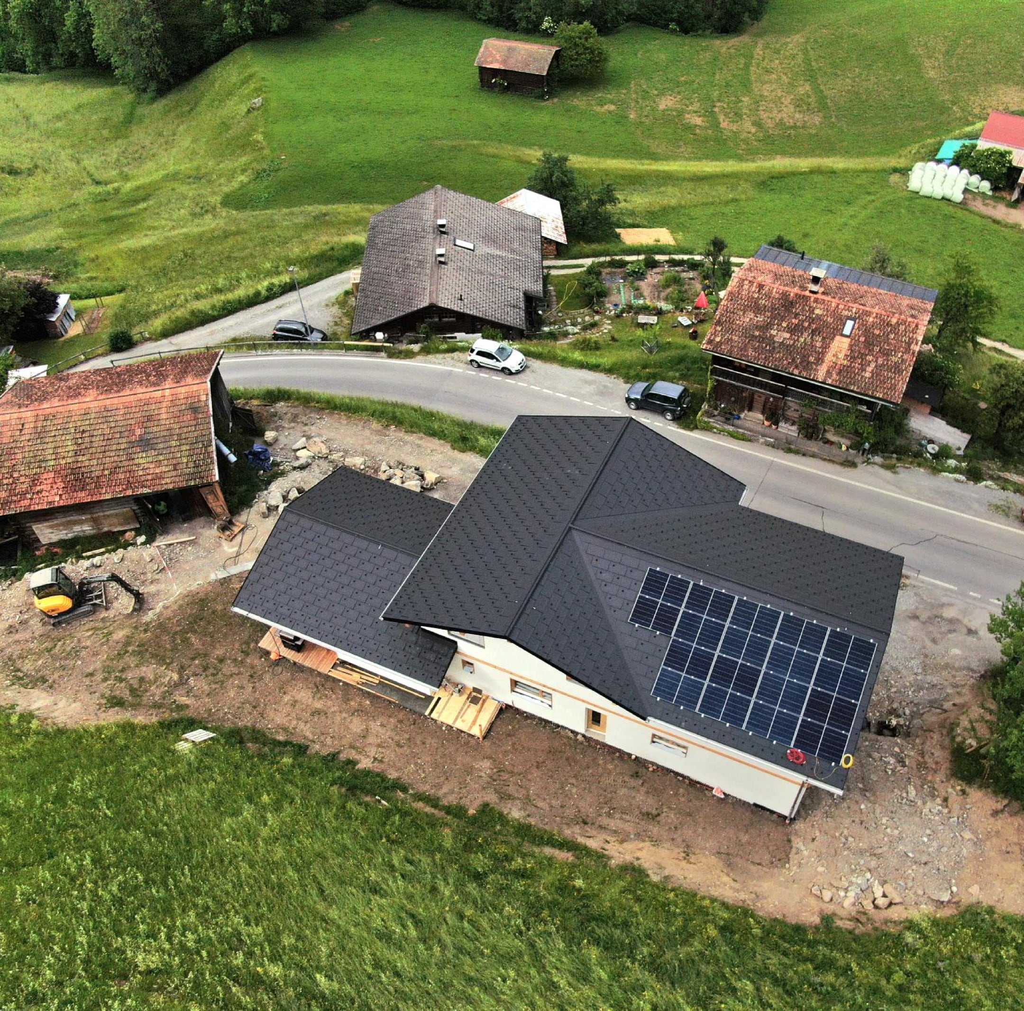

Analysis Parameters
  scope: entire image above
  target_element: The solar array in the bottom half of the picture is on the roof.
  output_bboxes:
[628,567,877,763]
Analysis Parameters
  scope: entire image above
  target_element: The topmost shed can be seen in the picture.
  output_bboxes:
[475,39,562,97]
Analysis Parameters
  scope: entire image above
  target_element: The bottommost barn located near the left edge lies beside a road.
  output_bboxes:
[0,349,225,540]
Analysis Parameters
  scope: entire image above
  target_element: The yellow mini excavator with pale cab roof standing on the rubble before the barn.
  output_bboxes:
[34,564,150,629]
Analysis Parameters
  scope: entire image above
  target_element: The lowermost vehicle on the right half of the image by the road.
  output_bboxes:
[622,378,690,421]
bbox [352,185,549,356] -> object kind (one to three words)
house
